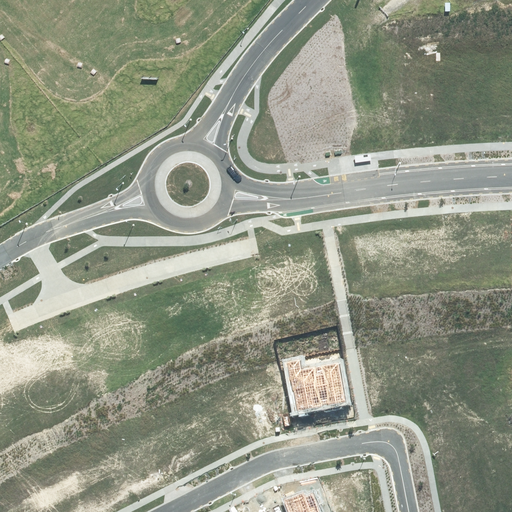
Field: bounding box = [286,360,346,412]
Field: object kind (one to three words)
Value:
house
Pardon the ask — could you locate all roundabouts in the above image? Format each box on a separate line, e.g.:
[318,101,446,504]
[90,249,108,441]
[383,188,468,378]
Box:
[140,136,236,232]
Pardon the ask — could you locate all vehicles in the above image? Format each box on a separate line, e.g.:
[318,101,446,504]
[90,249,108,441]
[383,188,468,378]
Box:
[226,166,240,181]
